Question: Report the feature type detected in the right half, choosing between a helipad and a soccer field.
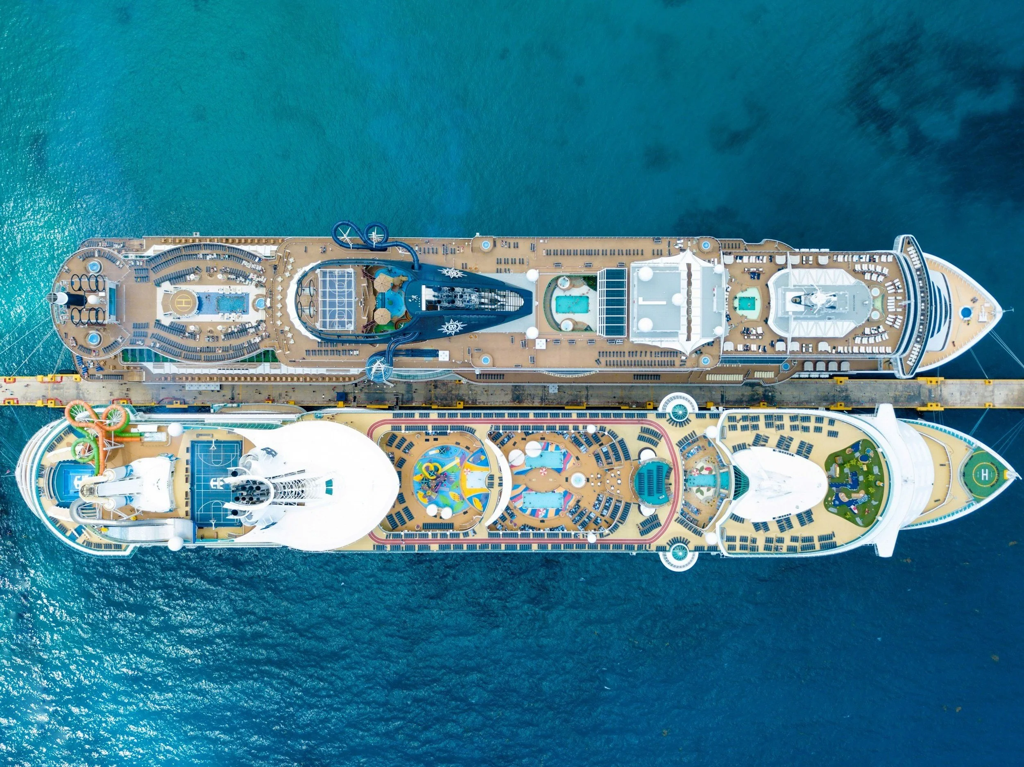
helipad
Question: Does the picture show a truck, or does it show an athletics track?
athletics track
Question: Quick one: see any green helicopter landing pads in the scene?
Yes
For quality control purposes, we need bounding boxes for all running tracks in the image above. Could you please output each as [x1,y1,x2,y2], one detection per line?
[368,419,680,545]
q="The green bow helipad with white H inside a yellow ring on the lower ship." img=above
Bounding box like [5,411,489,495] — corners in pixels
[956,445,1004,503]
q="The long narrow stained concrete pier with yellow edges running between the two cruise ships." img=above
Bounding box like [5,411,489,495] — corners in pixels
[0,374,1024,411]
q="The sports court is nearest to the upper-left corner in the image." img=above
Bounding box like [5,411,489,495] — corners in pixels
[319,269,354,330]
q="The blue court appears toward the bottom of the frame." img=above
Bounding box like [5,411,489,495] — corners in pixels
[190,440,245,530]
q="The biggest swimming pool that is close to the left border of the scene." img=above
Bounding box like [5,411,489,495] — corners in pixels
[44,444,103,523]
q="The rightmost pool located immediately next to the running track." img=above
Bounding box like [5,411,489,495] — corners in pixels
[688,461,729,500]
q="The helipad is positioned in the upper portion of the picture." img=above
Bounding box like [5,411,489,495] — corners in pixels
[162,286,200,320]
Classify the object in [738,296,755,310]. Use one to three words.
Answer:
swimming pool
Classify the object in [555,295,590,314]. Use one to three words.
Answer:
swimming pool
